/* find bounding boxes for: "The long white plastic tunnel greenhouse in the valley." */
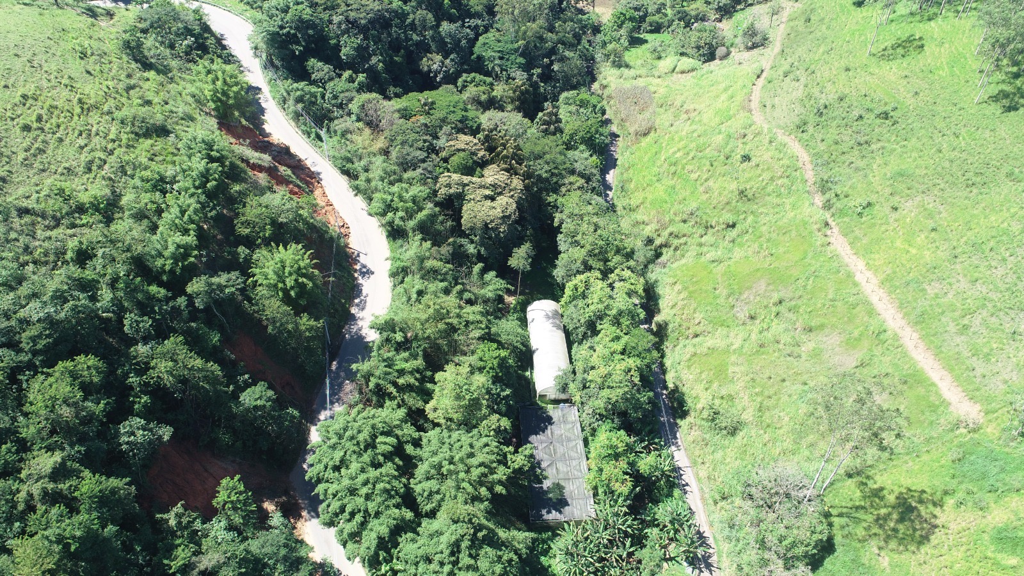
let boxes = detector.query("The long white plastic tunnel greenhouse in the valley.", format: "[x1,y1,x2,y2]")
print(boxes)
[527,304,572,400]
